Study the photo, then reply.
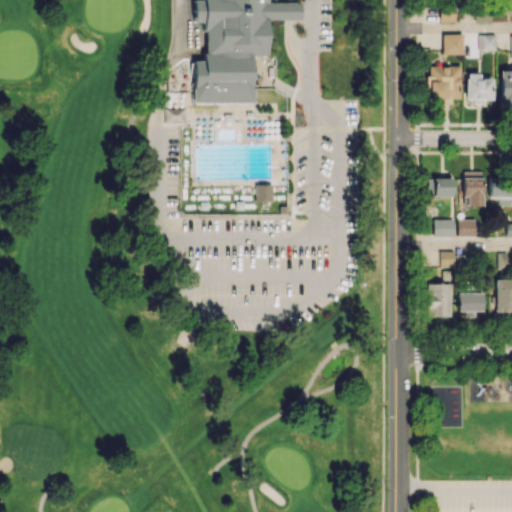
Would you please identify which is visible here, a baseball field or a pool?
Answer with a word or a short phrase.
pool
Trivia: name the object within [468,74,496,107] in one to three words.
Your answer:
house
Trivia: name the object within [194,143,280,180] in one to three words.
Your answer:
swimming pool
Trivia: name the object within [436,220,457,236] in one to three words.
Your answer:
building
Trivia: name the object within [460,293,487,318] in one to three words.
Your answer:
house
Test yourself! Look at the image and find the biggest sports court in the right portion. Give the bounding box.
[432,387,462,428]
